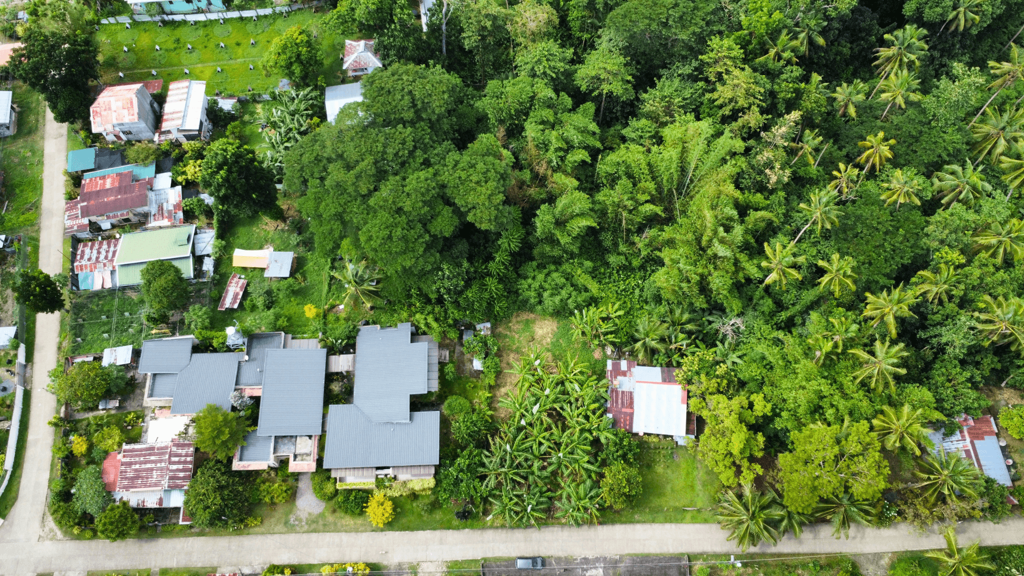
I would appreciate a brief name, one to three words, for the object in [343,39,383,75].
building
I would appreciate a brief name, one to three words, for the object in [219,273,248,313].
shed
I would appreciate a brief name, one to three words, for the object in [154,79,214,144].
house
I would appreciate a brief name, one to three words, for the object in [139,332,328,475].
house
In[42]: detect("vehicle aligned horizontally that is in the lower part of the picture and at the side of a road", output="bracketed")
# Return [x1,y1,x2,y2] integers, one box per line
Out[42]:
[515,558,543,572]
